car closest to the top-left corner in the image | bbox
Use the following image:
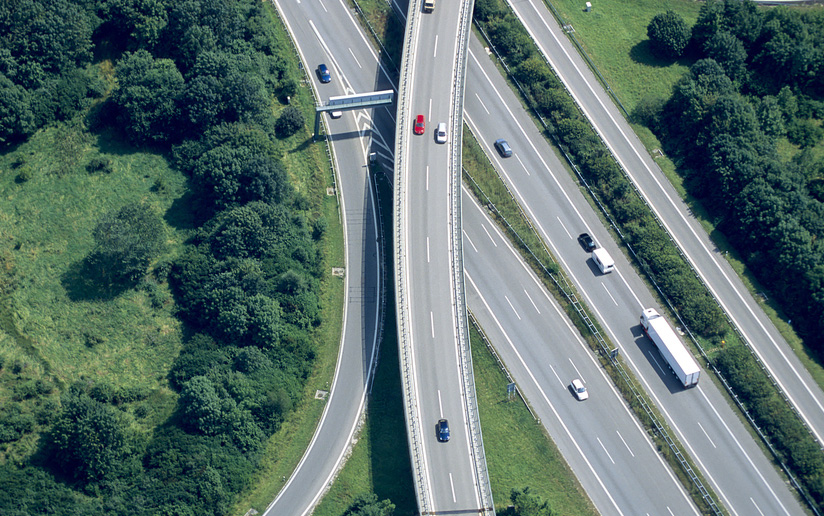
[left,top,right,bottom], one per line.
[316,63,332,82]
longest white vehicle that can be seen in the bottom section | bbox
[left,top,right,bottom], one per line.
[640,309,699,386]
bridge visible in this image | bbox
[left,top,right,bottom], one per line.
[393,0,495,516]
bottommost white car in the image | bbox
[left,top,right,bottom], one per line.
[572,378,587,400]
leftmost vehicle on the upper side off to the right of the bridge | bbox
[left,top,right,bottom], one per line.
[496,138,512,157]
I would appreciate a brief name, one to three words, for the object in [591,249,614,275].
camper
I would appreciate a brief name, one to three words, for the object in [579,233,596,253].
car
